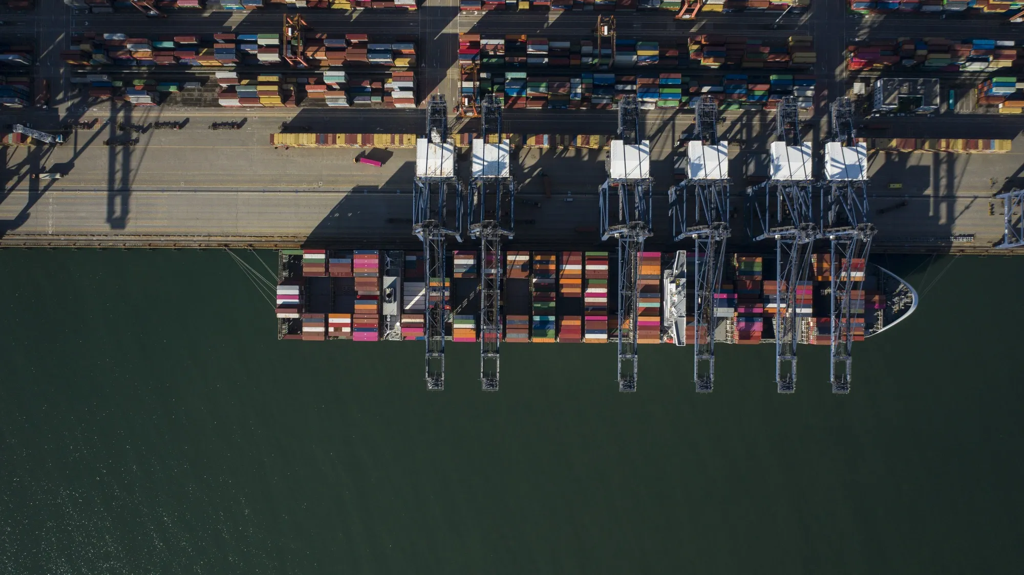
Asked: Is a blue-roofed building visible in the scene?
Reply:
No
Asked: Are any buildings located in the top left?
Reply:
No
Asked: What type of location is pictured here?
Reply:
port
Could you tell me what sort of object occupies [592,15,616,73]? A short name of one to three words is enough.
container crane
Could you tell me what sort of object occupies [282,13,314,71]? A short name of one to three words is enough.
container crane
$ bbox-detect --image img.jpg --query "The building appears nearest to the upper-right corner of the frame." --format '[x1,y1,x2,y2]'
[874,78,940,115]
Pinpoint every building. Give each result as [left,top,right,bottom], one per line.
[851,83,865,95]
[874,78,940,115]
